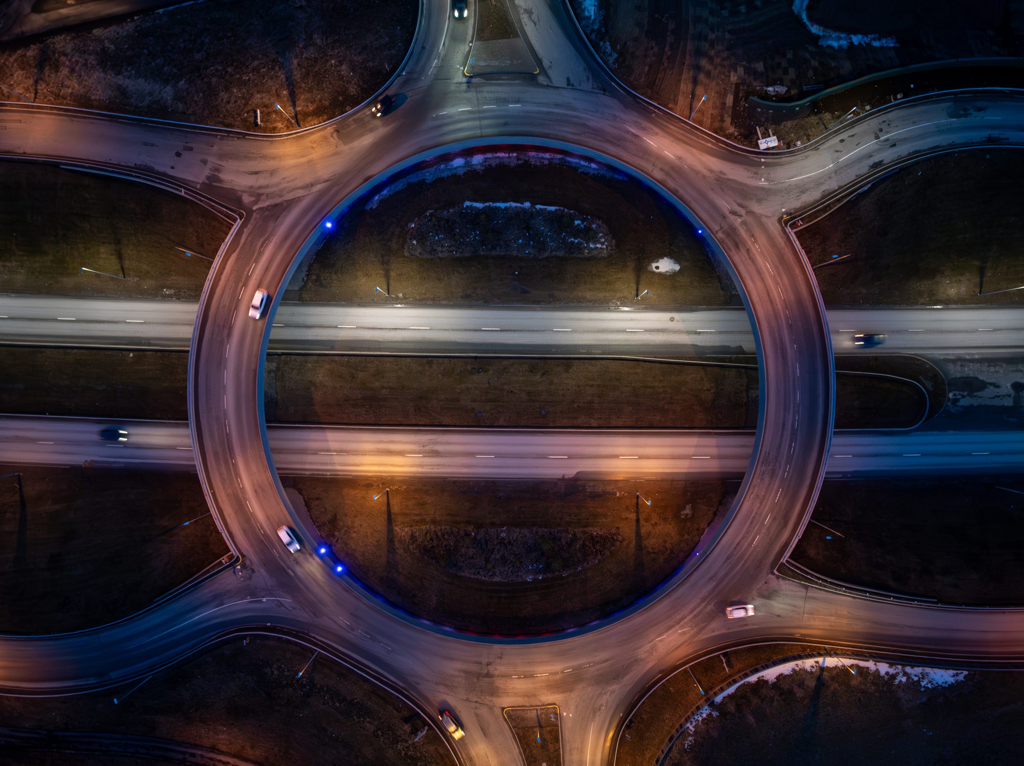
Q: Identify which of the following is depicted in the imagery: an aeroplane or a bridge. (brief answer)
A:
bridge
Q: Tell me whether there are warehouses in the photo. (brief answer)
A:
No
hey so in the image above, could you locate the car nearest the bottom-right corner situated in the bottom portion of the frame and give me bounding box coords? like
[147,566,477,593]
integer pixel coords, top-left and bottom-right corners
[725,604,755,619]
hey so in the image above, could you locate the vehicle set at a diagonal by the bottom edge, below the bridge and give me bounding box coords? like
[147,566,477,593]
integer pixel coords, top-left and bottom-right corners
[440,709,464,740]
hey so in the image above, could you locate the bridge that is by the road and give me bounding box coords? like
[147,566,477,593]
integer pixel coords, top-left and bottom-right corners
[184,96,840,687]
